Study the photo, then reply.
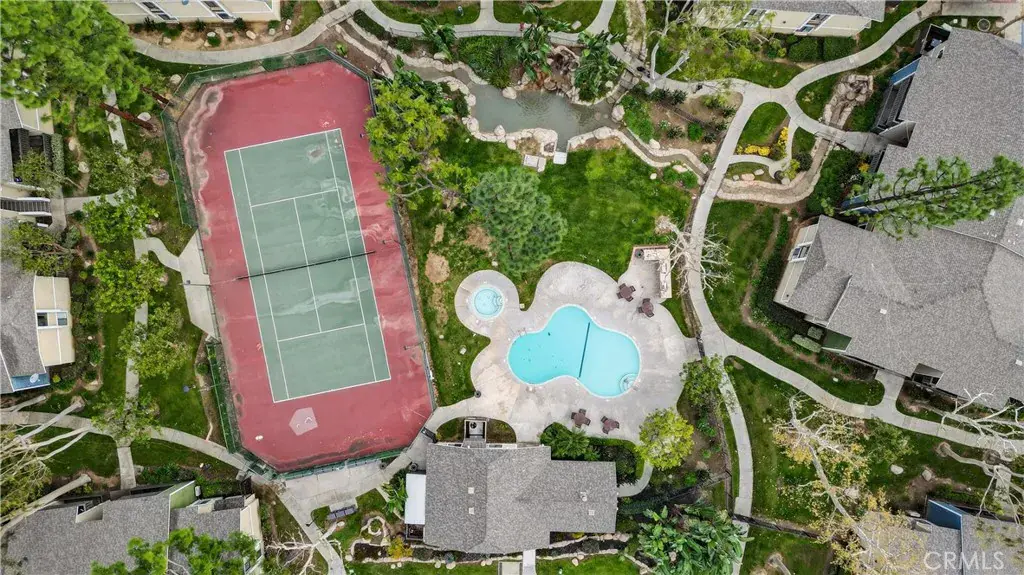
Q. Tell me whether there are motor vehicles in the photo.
No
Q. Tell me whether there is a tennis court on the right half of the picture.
No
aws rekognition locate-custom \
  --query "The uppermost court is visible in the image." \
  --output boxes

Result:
[177,60,431,472]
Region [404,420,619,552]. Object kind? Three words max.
building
